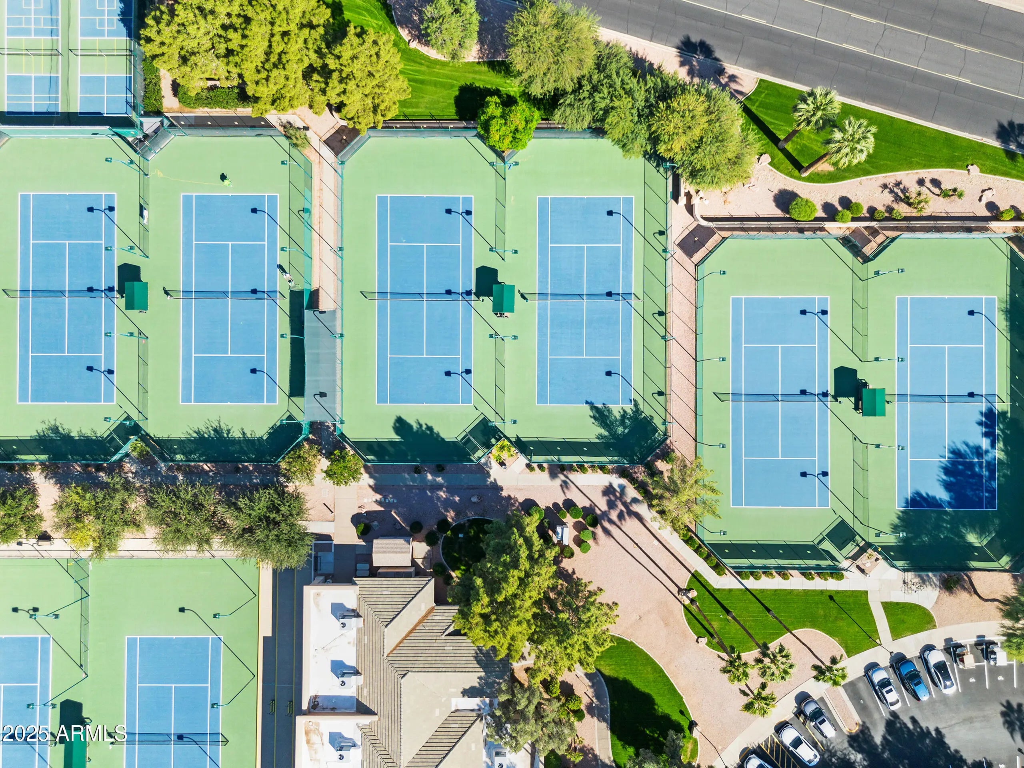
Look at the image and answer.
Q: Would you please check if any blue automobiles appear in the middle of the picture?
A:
No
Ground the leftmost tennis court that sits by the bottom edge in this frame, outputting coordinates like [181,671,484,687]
[0,559,88,768]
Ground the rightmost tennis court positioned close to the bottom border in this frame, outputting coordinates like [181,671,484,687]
[88,559,257,768]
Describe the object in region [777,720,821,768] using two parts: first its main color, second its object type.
white car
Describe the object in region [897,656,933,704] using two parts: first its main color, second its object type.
blue car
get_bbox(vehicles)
[986,644,1007,668]
[924,646,959,697]
[744,751,768,768]
[897,656,933,704]
[866,665,902,713]
[801,695,838,741]
[777,720,821,768]
[954,646,976,670]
